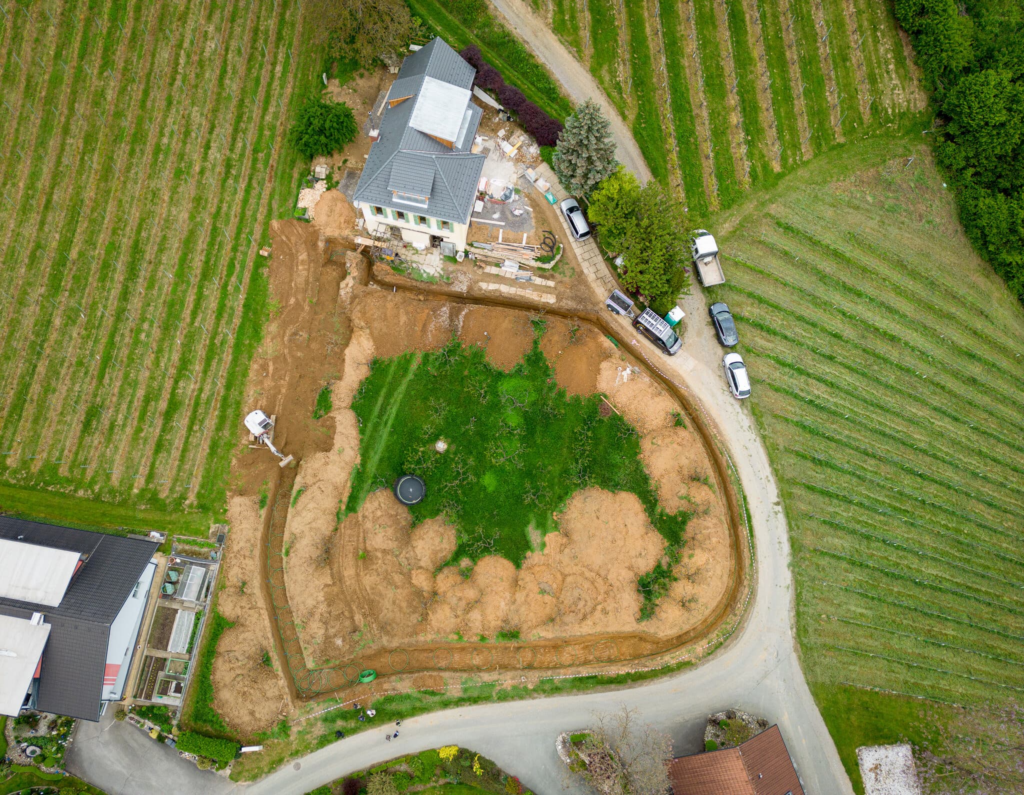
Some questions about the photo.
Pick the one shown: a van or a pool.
van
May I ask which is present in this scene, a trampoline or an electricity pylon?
trampoline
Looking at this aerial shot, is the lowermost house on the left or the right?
right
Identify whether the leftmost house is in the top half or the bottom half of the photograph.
bottom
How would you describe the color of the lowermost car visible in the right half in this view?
white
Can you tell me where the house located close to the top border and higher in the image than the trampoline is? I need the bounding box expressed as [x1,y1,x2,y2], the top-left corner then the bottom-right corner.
[349,34,486,254]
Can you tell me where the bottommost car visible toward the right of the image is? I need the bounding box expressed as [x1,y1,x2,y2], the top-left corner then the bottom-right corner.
[723,353,750,400]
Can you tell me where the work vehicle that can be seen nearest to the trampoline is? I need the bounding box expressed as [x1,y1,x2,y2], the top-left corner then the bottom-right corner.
[247,416,295,475]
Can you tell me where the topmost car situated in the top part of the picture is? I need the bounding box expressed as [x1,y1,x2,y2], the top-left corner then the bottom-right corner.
[559,197,592,244]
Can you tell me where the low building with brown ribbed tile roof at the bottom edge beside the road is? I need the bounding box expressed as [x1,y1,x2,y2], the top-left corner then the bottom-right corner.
[673,720,805,795]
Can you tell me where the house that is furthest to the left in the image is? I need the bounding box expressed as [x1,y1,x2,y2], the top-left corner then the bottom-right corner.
[0,513,163,722]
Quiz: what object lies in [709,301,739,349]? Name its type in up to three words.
car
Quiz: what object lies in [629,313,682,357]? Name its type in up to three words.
van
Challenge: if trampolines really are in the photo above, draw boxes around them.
[393,473,426,505]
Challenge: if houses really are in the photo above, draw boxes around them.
[673,720,805,795]
[0,513,163,722]
[349,34,486,254]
